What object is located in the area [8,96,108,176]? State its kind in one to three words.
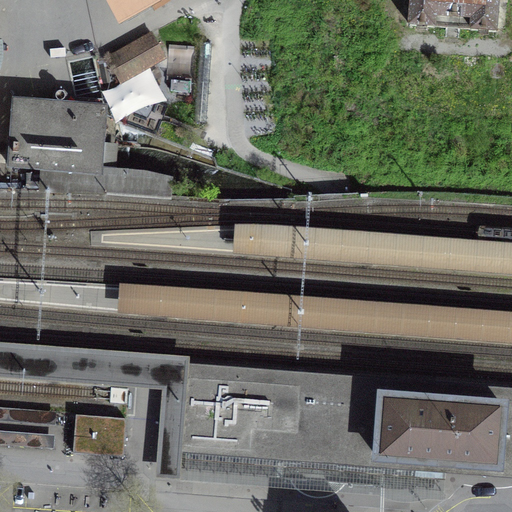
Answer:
building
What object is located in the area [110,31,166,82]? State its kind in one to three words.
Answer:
house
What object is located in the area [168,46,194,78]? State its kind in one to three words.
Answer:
shed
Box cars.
[472,485,496,496]
[14,484,24,505]
[70,42,94,53]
